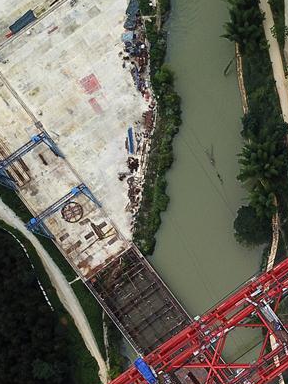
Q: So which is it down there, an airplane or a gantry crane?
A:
gantry crane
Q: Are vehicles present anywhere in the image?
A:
Yes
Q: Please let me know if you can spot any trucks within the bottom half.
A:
No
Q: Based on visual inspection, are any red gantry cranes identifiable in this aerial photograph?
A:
No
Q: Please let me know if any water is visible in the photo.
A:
Yes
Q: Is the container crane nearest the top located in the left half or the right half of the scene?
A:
left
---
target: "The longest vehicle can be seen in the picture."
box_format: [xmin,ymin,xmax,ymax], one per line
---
[8,9,34,33]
